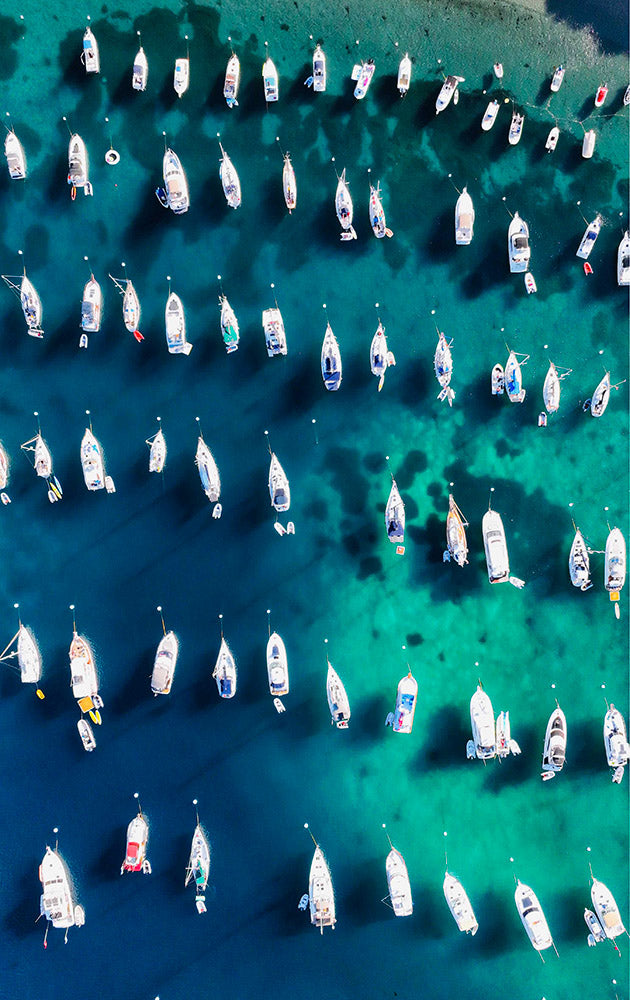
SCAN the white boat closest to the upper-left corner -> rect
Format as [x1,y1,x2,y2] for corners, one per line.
[82,27,101,76]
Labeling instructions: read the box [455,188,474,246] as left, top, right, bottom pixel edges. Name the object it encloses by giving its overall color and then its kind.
white boat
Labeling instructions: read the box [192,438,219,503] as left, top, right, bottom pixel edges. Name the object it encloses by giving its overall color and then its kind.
white boat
